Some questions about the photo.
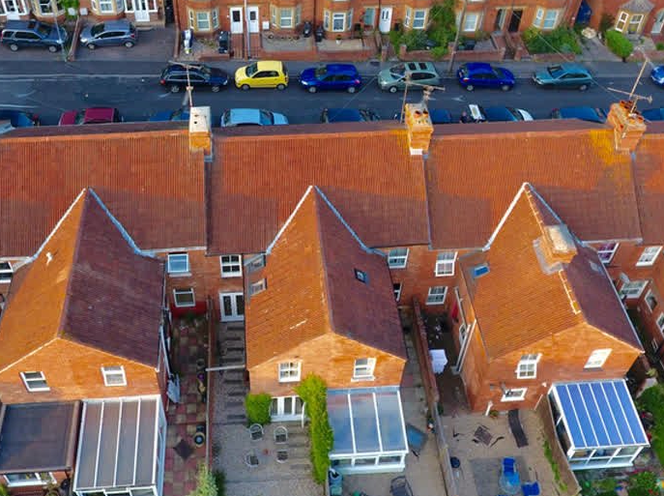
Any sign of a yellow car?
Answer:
Yes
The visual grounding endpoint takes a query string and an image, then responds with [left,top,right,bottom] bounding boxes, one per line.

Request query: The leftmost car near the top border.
[0,17,67,49]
